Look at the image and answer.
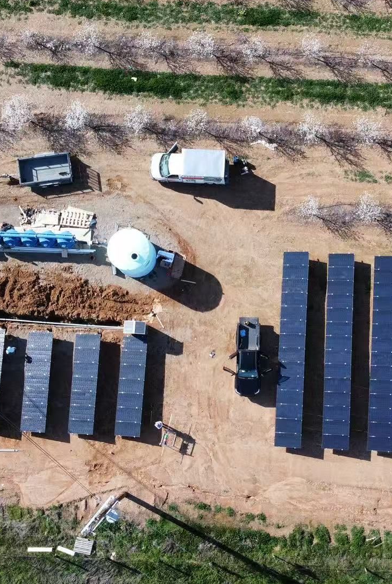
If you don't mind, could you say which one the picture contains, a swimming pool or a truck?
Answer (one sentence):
The image shows a truck.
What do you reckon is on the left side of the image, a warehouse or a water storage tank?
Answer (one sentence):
Visible on the left side of the image is a water storage tank.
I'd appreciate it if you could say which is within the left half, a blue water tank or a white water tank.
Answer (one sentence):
The feature located within the left half is a white water tank.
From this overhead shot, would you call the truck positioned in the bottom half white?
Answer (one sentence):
No, the color of the truck positioned in the bottom half is black.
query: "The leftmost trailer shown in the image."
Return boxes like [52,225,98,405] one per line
[0,152,74,187]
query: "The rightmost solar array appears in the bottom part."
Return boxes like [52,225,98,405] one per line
[367,254,392,451]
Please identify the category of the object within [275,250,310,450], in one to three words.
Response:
solar array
